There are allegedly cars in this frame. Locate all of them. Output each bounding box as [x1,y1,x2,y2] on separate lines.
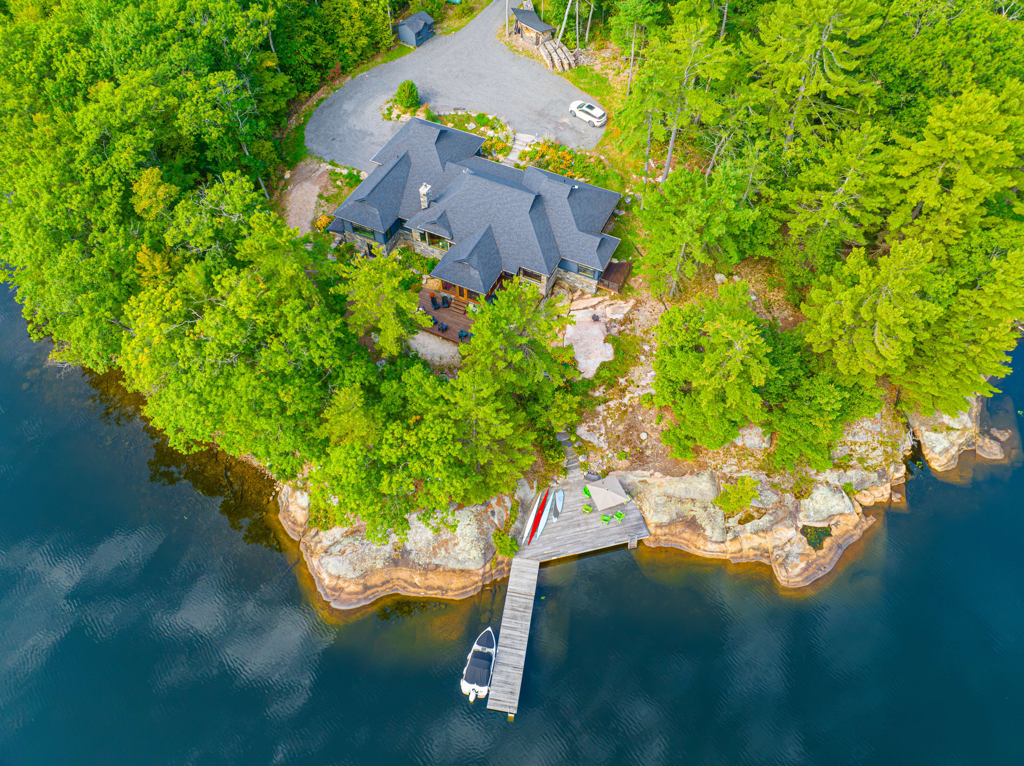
[570,100,609,124]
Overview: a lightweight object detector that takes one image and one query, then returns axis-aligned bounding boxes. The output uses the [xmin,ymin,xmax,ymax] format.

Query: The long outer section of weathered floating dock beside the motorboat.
[487,590,535,715]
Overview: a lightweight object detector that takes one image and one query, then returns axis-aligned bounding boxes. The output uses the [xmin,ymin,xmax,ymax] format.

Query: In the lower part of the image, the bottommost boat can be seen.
[460,628,497,707]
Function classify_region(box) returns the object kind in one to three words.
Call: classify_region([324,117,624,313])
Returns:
house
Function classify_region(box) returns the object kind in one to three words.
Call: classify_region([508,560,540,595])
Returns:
pier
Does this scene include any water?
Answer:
Yes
